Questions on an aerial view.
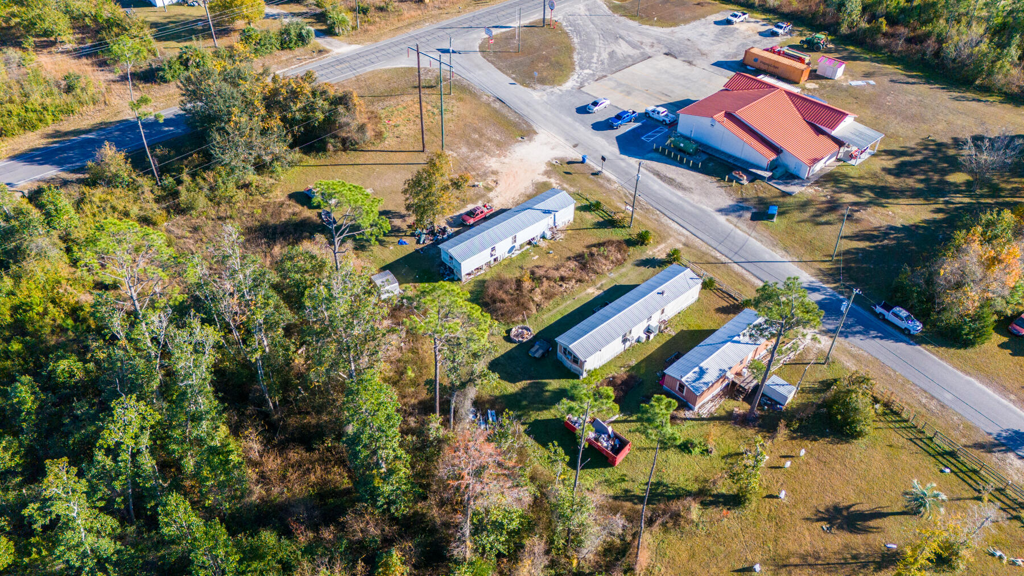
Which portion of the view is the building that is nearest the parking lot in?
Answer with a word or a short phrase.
top right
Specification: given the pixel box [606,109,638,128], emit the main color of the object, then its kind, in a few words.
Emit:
blue vehicle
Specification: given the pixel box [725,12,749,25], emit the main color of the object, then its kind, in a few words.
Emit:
white vehicle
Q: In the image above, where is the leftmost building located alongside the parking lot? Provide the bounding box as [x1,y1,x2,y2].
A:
[436,190,578,280]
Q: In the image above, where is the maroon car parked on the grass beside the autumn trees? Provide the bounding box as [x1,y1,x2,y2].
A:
[1002,311,1024,335]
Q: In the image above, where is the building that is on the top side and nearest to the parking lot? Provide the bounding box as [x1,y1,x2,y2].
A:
[675,71,868,179]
